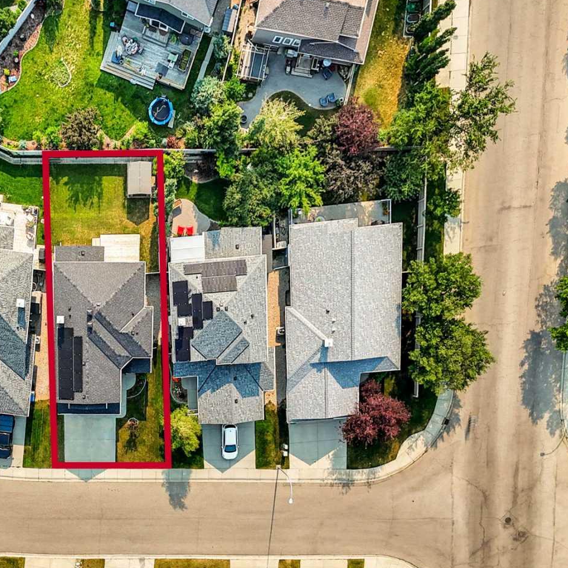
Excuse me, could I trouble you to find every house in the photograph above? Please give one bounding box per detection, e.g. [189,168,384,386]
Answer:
[122,0,218,36]
[167,226,276,424]
[282,218,403,424]
[53,245,154,416]
[0,223,36,417]
[251,0,378,66]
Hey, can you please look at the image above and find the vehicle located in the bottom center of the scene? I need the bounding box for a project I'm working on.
[220,422,240,461]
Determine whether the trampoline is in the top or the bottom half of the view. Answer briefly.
top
